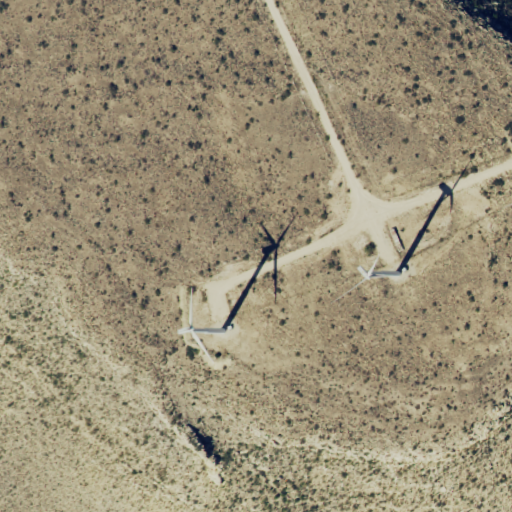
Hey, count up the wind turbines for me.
2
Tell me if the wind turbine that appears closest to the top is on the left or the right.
right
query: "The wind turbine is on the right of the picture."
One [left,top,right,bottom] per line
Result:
[336,246,405,308]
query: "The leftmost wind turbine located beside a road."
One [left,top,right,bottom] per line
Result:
[170,294,230,364]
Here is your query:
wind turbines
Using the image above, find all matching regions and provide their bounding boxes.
[170,294,230,364]
[336,246,405,308]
